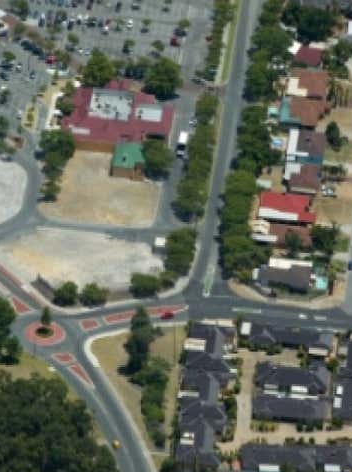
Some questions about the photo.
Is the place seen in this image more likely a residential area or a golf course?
residential area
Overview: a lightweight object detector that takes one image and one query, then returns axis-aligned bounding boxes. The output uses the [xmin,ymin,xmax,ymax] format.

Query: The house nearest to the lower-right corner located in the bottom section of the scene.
[314,443,352,472]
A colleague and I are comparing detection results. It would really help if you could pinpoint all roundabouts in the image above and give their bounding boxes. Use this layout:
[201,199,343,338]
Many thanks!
[11,311,80,355]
